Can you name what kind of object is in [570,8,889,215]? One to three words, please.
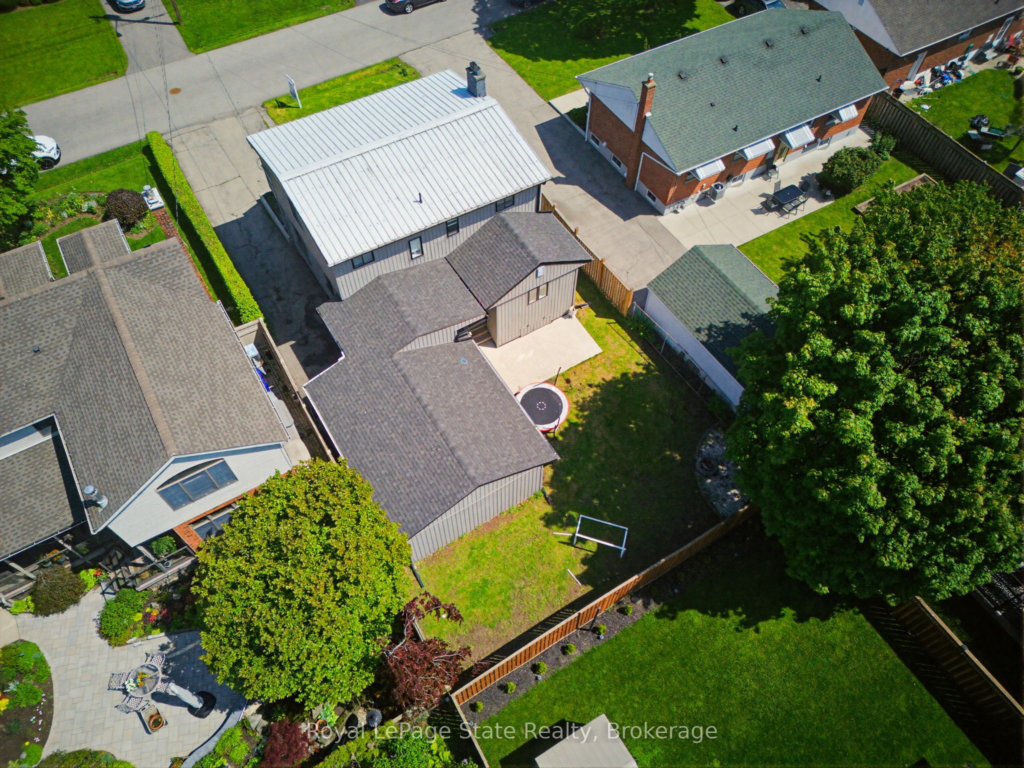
house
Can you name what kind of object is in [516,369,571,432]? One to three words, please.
trampoline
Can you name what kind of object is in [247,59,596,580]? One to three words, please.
house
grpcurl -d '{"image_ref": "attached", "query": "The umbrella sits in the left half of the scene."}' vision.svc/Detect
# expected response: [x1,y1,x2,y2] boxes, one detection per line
[176,681,216,720]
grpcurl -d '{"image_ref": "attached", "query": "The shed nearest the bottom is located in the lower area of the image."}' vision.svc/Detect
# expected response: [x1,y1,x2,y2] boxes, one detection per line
[534,714,638,768]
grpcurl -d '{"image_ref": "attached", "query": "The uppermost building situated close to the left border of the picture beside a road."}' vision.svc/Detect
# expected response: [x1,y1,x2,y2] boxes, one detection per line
[0,185,300,599]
